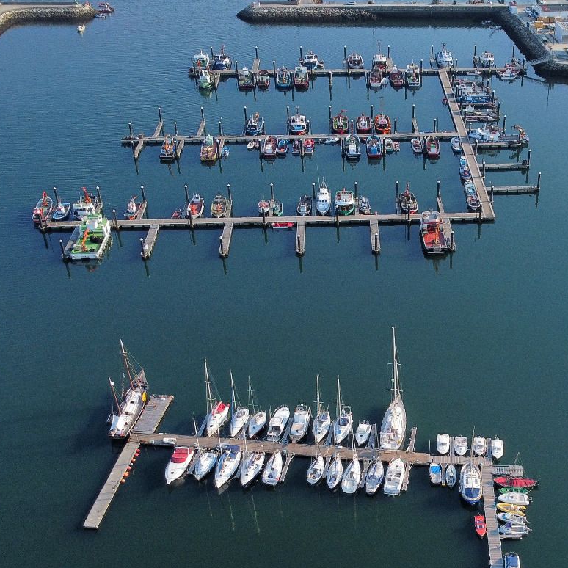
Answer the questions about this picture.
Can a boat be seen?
Yes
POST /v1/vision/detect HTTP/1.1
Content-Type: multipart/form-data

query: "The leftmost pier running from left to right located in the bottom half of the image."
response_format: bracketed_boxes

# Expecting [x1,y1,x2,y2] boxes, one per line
[131,433,430,465]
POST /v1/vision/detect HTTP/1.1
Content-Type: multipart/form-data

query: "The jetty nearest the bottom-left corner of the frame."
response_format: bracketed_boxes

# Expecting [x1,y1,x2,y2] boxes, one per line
[84,444,140,529]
